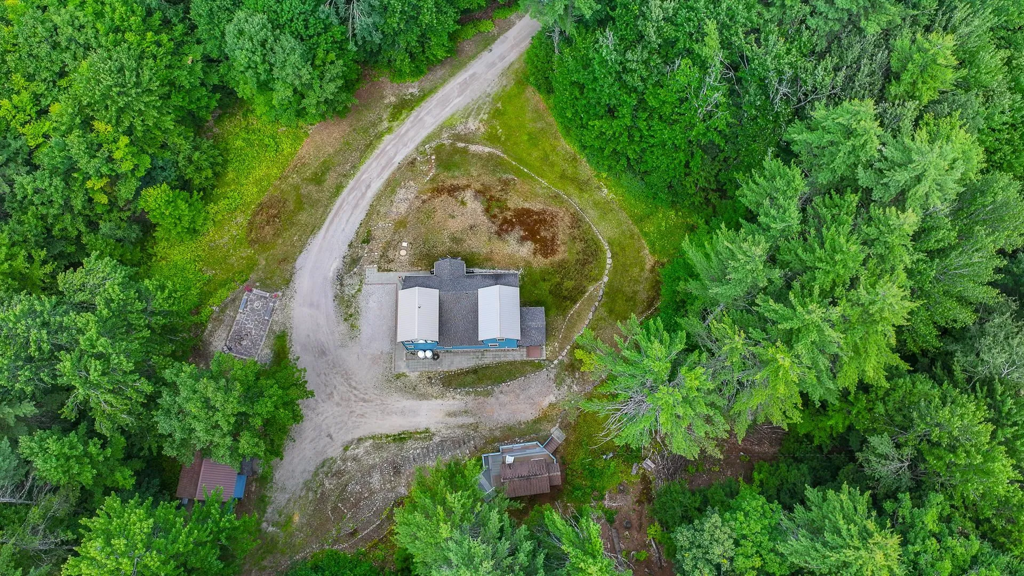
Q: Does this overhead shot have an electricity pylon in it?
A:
No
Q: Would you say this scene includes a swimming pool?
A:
No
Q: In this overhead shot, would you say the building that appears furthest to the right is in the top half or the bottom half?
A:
bottom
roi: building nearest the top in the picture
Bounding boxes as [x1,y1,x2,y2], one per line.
[395,256,546,351]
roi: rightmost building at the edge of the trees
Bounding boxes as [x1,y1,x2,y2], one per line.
[479,427,565,501]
